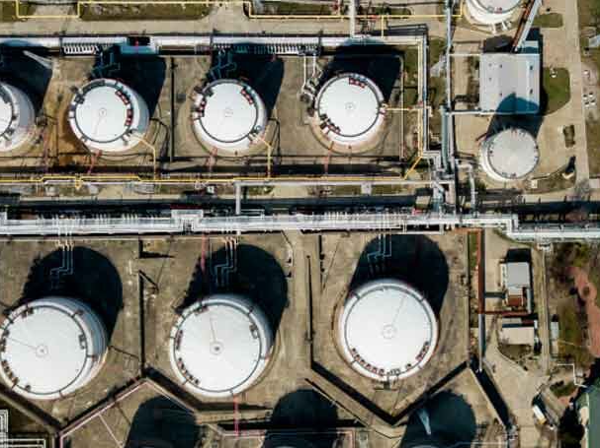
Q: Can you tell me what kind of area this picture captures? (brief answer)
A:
industrial area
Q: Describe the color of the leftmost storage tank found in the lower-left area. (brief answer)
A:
white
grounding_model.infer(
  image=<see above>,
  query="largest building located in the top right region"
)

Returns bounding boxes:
[479,54,539,112]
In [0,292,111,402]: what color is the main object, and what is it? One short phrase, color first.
white storage tank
